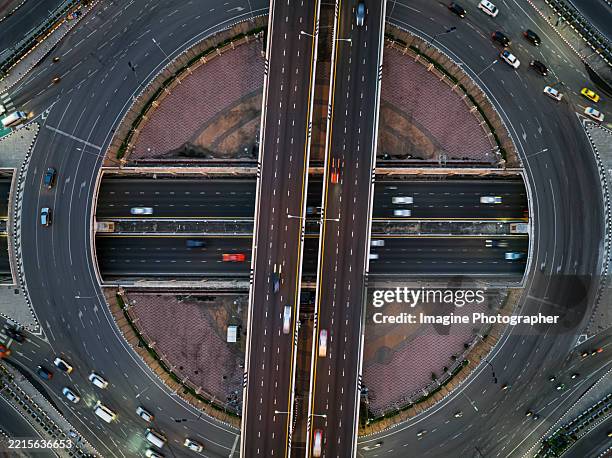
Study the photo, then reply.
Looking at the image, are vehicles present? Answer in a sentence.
Yes, looking at the shot, I can spot a vehicle.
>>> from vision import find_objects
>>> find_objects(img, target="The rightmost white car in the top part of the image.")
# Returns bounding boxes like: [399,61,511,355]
[582,105,605,123]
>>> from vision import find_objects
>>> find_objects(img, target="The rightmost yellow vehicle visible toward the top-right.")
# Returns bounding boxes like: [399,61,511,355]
[578,85,602,103]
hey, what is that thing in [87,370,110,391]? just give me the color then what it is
white car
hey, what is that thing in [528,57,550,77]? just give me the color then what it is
black car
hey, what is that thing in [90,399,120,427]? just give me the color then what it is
white vehicle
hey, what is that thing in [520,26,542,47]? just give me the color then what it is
black car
